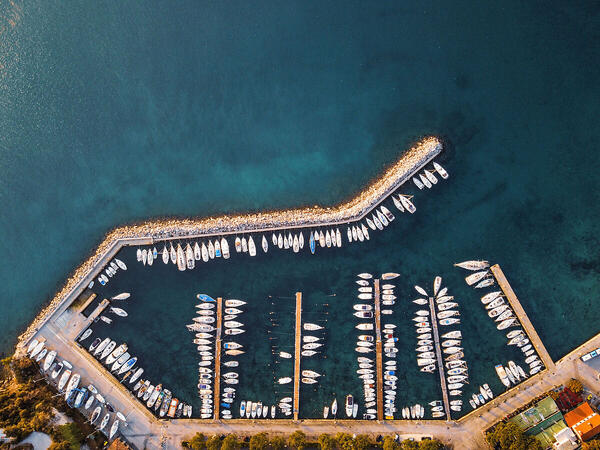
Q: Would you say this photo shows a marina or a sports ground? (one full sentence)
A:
This looks like a marina.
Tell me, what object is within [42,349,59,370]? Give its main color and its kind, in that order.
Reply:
white boat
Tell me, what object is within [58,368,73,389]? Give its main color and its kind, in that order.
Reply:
white boat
